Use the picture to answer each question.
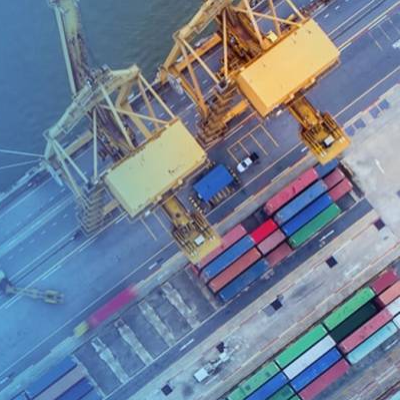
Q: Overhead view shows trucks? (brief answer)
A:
Yes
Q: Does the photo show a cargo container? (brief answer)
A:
Yes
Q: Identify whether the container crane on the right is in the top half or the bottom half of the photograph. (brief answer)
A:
top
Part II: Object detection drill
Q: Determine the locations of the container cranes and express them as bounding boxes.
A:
[144,0,355,166]
[33,0,223,266]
